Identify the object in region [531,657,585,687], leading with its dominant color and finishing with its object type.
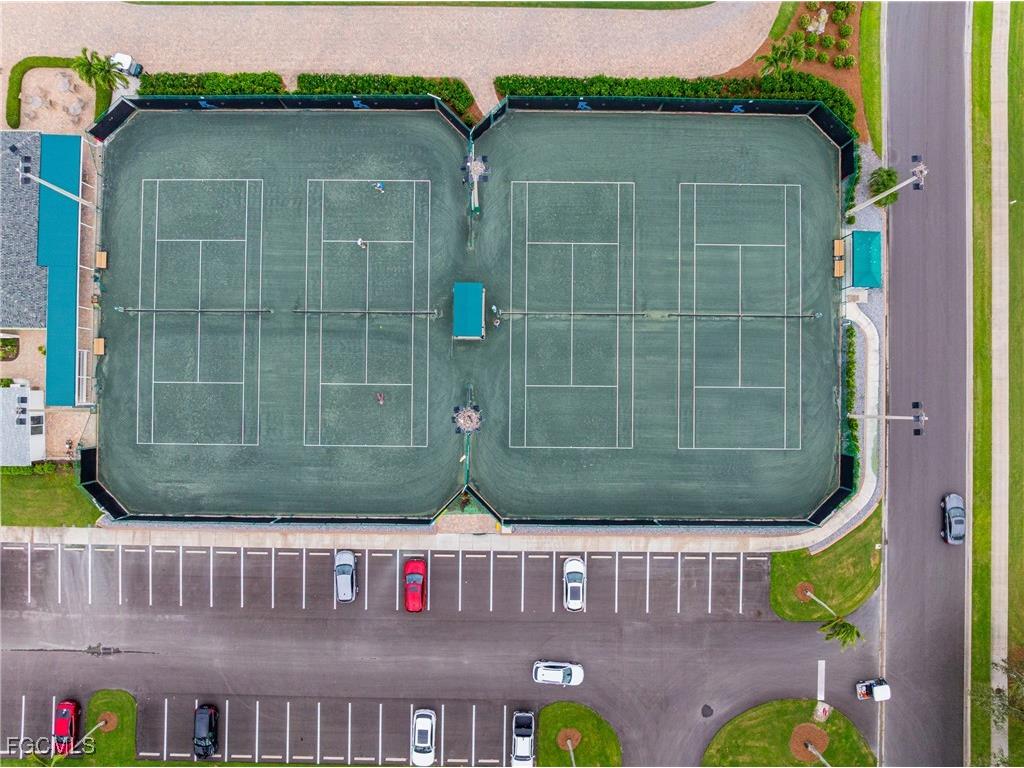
white car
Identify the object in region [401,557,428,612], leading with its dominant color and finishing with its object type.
red car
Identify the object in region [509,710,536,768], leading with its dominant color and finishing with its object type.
white truck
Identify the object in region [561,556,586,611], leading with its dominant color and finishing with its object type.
white car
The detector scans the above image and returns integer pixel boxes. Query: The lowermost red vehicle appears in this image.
[54,697,83,752]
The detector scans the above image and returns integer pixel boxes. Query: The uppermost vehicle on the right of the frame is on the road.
[938,493,968,545]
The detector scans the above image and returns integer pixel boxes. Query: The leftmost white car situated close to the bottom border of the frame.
[410,707,437,766]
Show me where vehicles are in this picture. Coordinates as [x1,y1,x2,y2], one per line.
[331,550,358,603]
[401,557,428,612]
[410,707,437,766]
[938,493,968,545]
[54,697,83,752]
[531,657,585,687]
[193,701,221,757]
[561,556,586,611]
[509,710,536,768]
[111,52,145,82]
[855,674,891,700]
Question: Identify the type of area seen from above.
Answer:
sports ground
